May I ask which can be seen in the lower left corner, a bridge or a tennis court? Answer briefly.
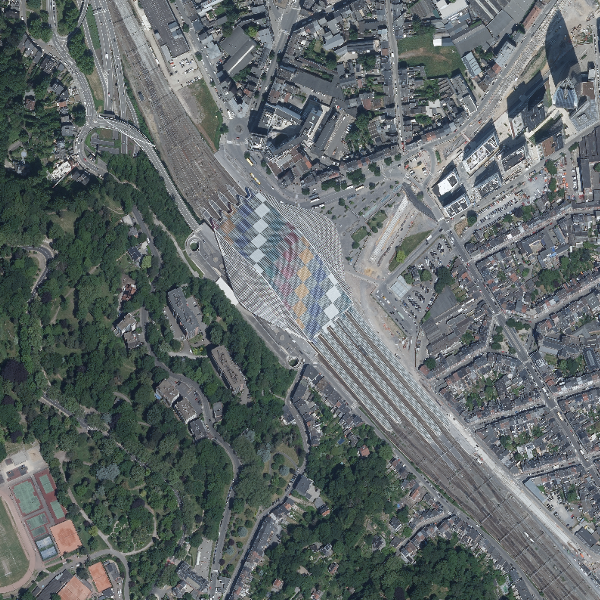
tennis court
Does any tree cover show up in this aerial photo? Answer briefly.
Yes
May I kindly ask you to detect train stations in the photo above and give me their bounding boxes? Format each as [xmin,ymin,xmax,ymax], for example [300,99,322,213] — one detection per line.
[196,172,469,462]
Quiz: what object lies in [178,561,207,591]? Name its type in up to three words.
house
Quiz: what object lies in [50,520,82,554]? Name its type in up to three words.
tennis court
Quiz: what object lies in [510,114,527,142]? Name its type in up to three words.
building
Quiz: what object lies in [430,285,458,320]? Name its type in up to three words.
building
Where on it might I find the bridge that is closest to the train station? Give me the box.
[92,116,198,233]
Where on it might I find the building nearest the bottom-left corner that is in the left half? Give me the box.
[36,570,74,600]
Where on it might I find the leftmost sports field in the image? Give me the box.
[0,492,28,585]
